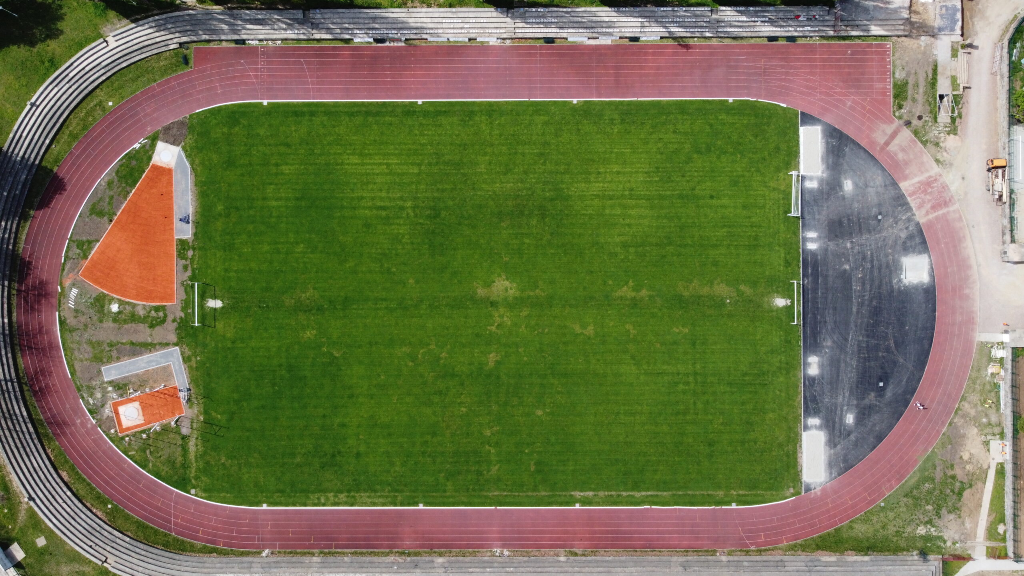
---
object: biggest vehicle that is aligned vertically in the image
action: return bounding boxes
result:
[983,160,1008,209]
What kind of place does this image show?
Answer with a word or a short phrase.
sports ground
